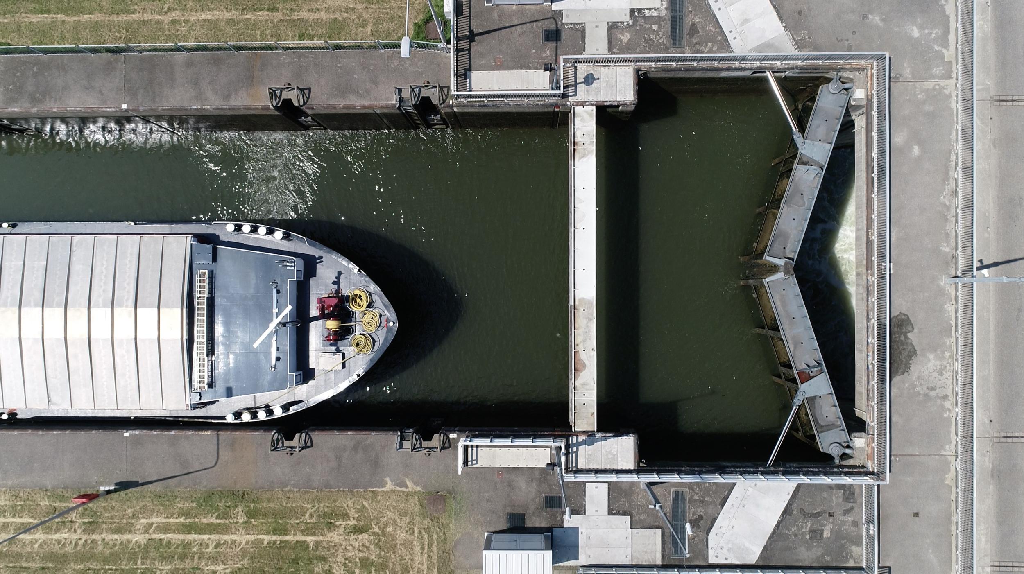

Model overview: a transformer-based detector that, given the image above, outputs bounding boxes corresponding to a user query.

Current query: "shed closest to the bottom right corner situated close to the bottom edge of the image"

[480,533,554,574]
